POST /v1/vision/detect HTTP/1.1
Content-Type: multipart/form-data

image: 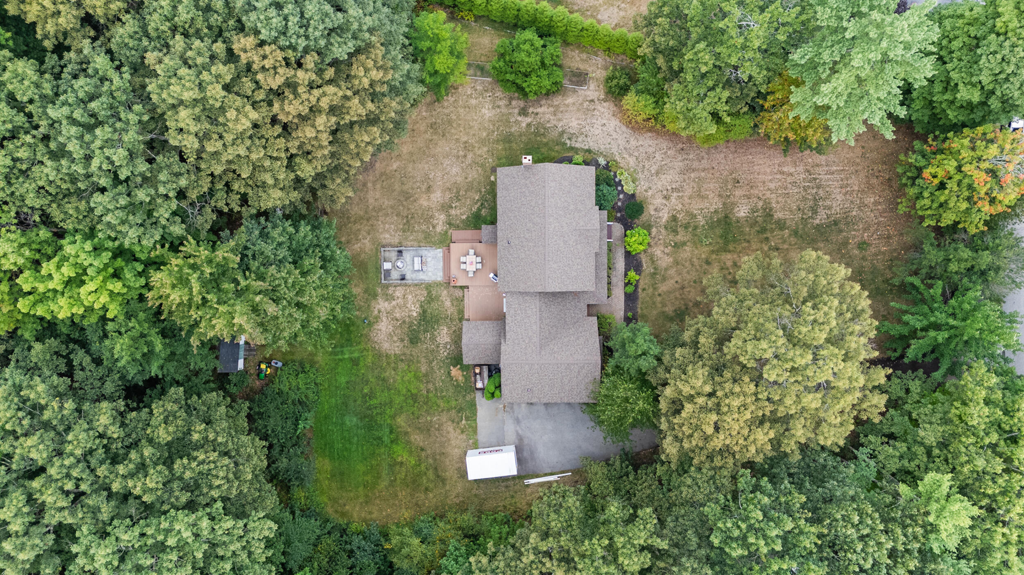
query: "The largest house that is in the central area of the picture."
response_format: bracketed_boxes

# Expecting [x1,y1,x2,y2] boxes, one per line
[462,155,614,403]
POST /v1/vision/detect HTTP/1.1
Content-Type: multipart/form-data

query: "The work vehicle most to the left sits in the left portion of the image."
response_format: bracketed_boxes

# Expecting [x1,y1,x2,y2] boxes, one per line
[256,363,270,381]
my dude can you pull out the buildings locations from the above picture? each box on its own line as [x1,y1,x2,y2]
[462,155,614,403]
[218,330,250,375]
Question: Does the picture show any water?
No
